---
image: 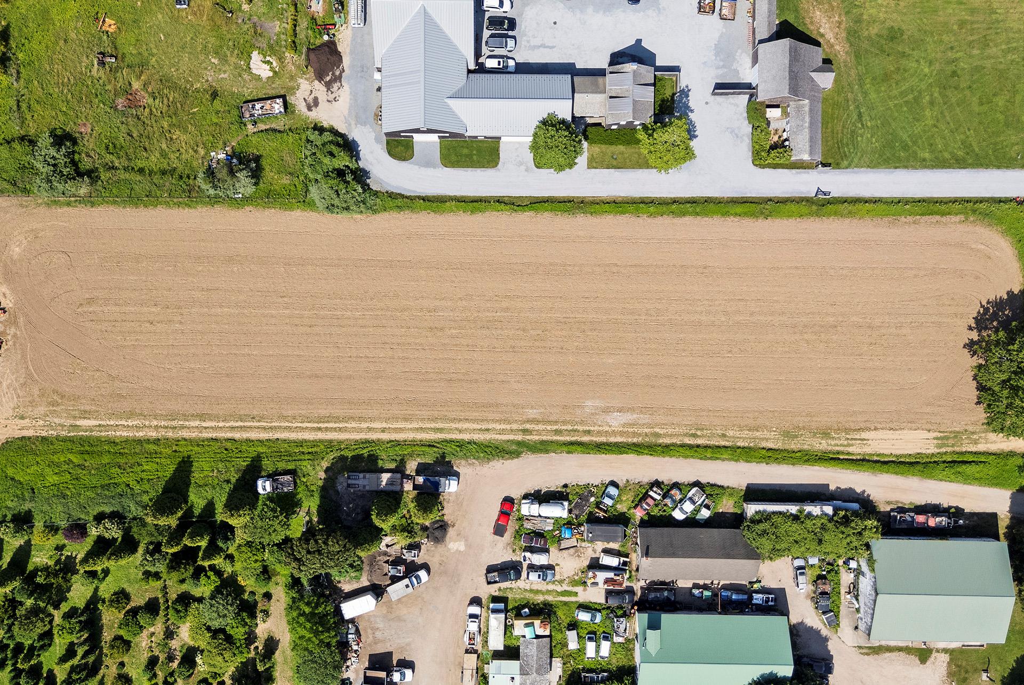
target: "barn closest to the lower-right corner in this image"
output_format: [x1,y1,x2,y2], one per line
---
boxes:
[856,532,1016,643]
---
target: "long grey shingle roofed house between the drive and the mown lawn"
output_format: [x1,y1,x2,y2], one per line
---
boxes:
[747,0,836,166]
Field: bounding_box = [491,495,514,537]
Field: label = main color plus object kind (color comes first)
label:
red truck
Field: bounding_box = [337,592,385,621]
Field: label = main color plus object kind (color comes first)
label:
white trailer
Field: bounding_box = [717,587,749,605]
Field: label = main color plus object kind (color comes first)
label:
blue vehicle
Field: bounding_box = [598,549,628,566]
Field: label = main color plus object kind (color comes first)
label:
white vehicle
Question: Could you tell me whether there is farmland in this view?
Yes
